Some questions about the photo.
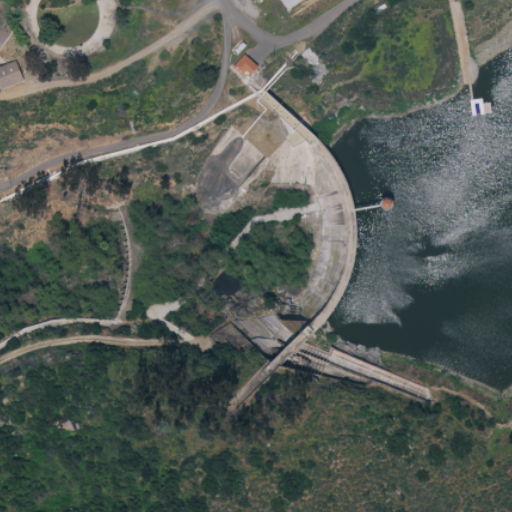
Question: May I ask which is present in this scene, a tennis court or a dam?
dam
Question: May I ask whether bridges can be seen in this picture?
Yes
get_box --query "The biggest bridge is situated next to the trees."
[228,326,308,410]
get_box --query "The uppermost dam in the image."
[262,90,358,338]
